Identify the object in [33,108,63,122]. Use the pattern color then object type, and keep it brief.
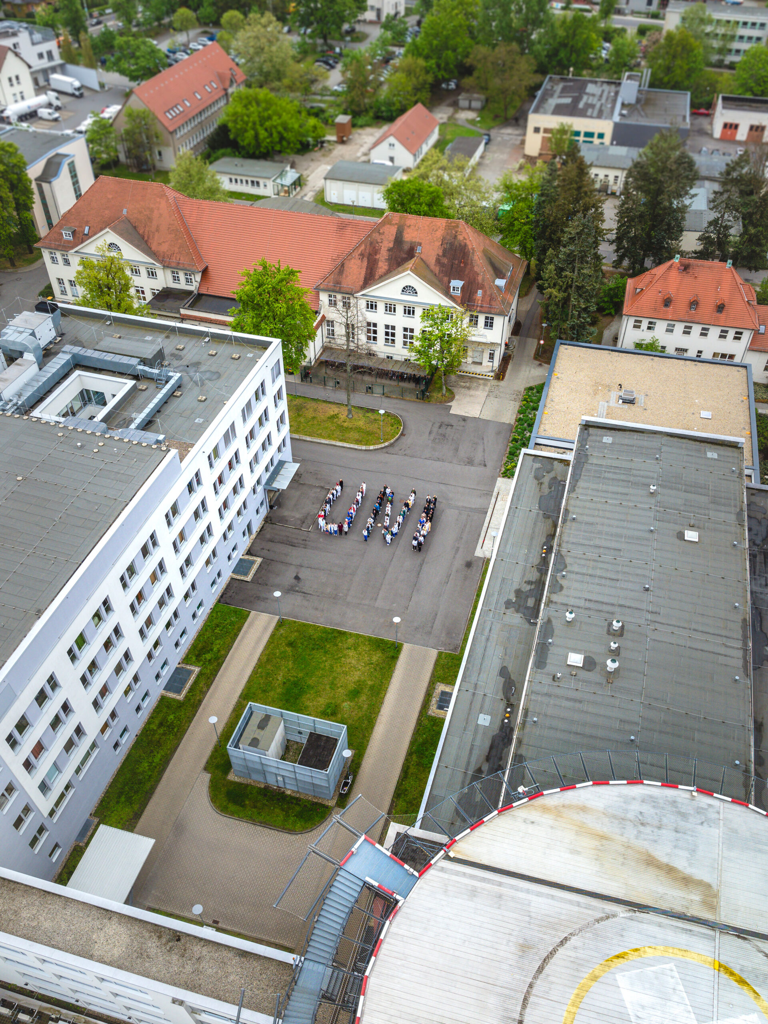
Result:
white vehicle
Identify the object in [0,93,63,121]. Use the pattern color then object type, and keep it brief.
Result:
white truck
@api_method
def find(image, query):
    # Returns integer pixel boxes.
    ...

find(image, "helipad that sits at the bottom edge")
[352,778,768,1024]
